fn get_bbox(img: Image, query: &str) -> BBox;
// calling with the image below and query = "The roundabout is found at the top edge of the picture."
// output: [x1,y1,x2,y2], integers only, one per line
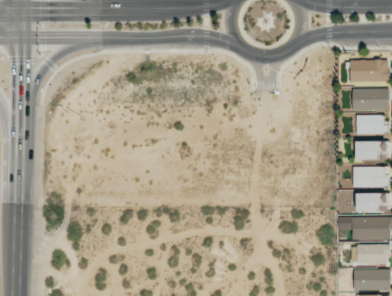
[226,0,308,63]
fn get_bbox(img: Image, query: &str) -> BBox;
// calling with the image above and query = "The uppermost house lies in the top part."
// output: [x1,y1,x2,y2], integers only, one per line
[346,58,390,81]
